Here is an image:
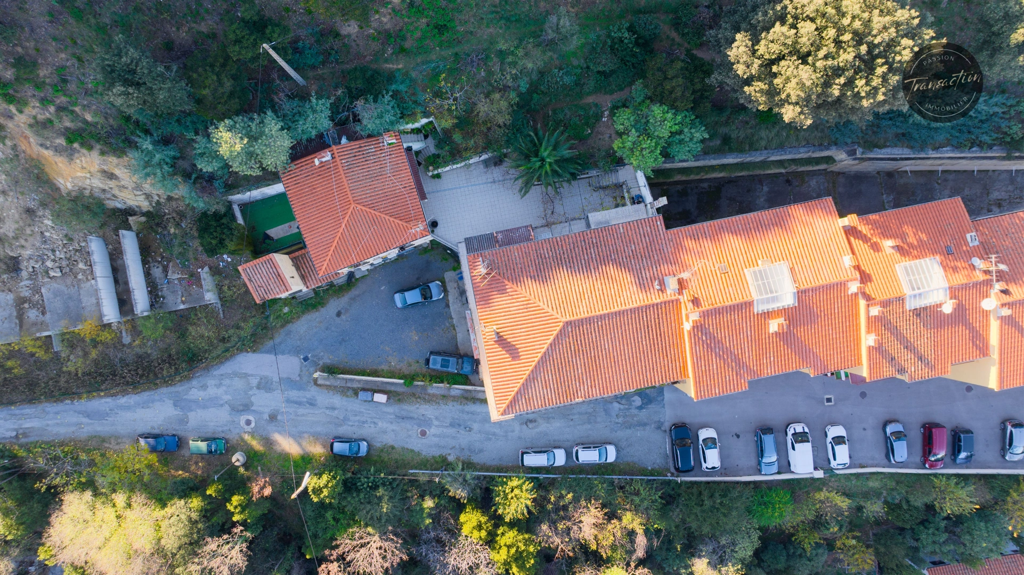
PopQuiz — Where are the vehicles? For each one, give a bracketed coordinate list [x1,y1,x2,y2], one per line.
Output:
[330,437,370,459]
[999,418,1024,462]
[786,422,816,477]
[754,426,780,474]
[949,427,976,465]
[519,446,565,470]
[394,282,445,309]
[187,436,229,458]
[921,422,951,469]
[423,353,476,377]
[823,423,850,469]
[572,442,616,466]
[882,420,910,464]
[697,427,722,471]
[670,422,695,474]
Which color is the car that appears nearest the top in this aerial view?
blue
